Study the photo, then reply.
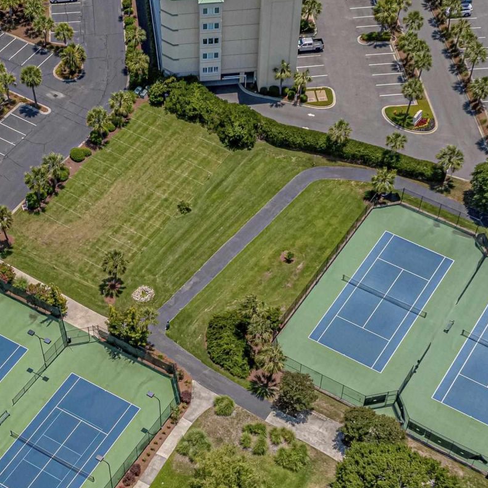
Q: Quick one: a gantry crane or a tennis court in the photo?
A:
tennis court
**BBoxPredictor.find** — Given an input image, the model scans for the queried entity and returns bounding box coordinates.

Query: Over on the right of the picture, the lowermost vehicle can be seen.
[299,38,326,54]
